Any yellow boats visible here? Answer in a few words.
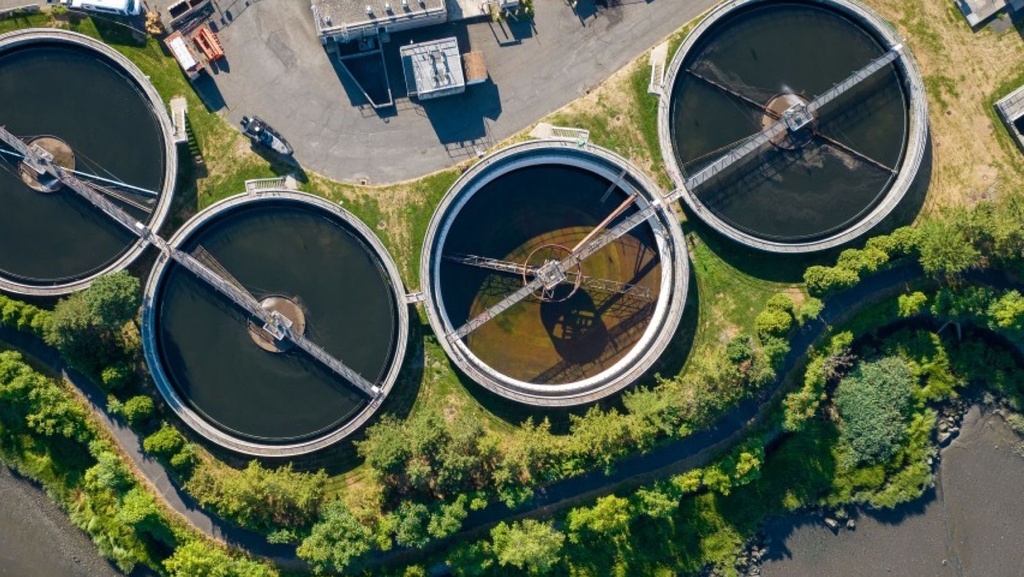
No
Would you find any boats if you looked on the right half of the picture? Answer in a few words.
No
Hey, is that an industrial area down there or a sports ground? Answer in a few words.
industrial area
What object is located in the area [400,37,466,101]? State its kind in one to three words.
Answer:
building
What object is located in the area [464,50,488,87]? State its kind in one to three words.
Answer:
shed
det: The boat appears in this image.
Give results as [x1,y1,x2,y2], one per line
[236,112,295,157]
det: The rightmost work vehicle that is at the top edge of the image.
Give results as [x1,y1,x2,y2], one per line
[140,5,166,36]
